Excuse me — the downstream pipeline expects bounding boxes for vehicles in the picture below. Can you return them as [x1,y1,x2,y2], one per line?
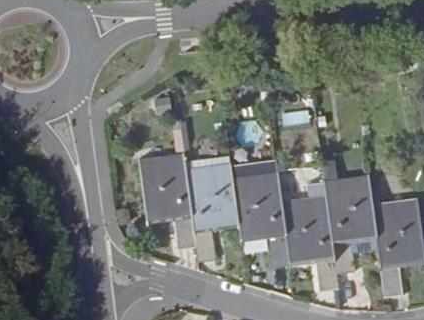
[220,281,242,294]
[275,266,286,287]
[344,281,354,300]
